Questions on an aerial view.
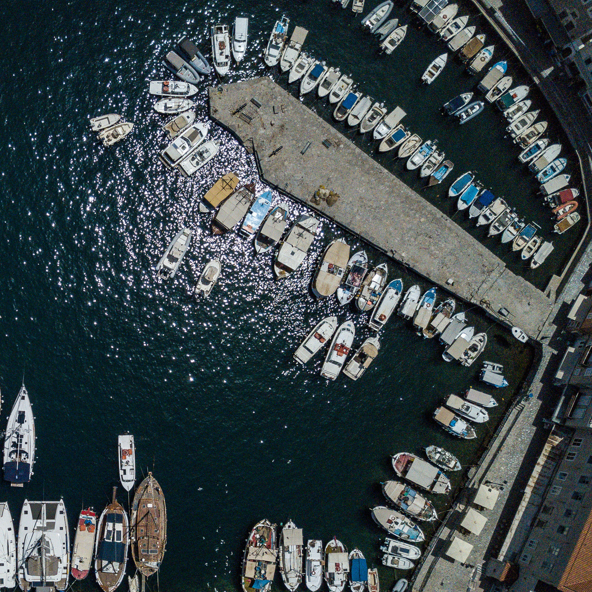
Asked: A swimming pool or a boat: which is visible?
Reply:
boat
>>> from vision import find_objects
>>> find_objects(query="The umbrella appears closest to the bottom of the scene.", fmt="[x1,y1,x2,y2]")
[446,536,473,565]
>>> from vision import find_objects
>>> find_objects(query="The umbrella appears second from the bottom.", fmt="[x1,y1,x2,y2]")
[461,509,487,535]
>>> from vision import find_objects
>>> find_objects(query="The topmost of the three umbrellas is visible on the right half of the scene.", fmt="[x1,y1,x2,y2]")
[473,485,498,509]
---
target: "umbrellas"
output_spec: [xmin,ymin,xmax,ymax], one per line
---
[473,485,498,509]
[461,509,487,535]
[446,536,473,565]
